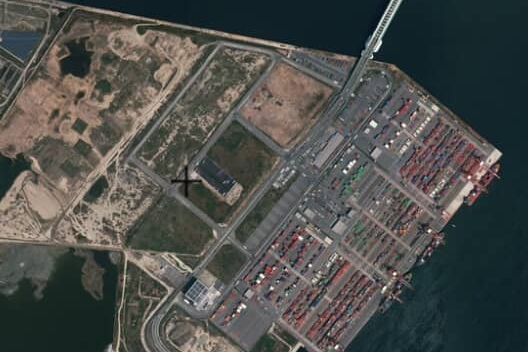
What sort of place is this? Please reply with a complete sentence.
It's a port.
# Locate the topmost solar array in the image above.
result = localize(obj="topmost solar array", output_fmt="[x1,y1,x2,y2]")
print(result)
[1,31,40,59]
